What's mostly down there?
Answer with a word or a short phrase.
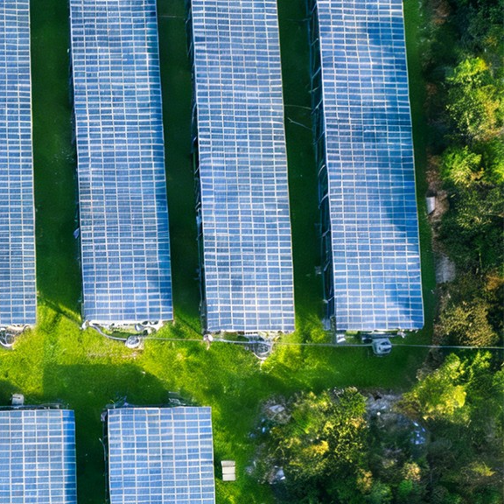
buildings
